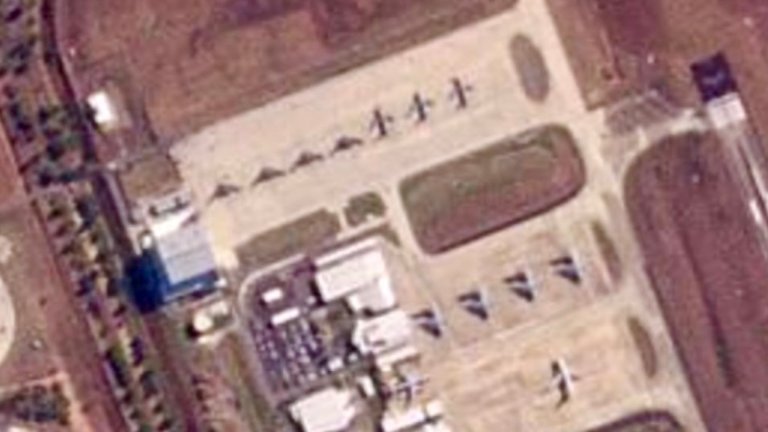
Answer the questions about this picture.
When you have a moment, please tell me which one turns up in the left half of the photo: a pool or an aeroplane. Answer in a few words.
aeroplane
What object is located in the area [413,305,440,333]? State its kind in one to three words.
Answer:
airplane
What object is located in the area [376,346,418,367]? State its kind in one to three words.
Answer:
shed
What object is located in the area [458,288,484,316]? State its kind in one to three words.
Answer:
airplane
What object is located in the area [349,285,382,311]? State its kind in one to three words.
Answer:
building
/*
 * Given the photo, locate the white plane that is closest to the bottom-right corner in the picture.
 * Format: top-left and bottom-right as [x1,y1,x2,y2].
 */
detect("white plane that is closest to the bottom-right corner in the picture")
[548,357,587,399]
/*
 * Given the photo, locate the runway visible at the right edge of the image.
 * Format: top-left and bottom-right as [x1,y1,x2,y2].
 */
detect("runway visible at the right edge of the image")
[716,119,768,238]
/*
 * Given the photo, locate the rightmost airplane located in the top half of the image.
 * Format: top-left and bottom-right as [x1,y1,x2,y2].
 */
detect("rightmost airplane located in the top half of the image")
[448,80,470,106]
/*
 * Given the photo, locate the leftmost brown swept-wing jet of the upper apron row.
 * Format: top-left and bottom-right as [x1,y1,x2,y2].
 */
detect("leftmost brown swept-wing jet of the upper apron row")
[211,181,245,202]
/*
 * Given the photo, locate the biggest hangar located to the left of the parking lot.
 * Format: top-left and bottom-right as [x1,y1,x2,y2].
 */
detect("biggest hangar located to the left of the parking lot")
[156,220,219,307]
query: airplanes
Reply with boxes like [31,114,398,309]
[292,150,327,171]
[504,270,531,298]
[332,134,366,156]
[413,305,440,333]
[458,288,484,316]
[370,110,392,136]
[211,181,245,202]
[254,167,288,188]
[548,357,587,399]
[448,80,470,106]
[552,252,578,279]
[391,371,425,398]
[409,93,430,119]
